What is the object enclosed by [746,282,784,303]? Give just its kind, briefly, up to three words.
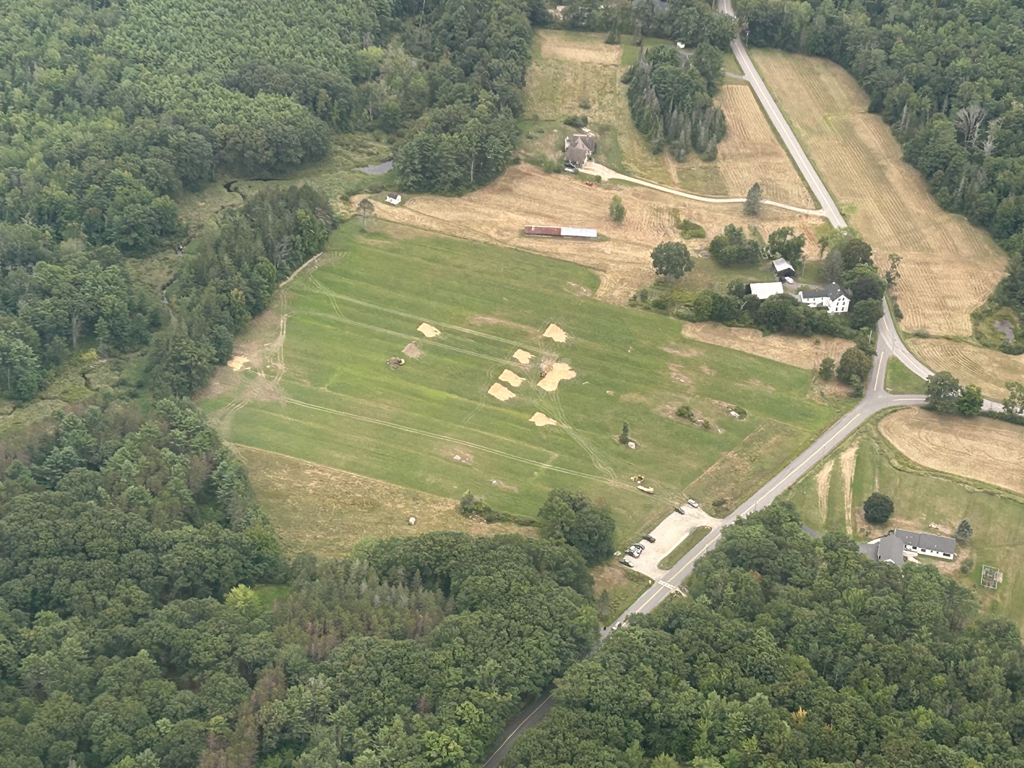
barn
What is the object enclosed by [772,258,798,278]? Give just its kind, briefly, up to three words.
barn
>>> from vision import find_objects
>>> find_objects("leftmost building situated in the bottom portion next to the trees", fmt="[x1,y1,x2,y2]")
[874,527,955,559]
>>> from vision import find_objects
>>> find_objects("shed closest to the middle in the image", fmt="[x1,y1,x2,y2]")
[525,225,597,239]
